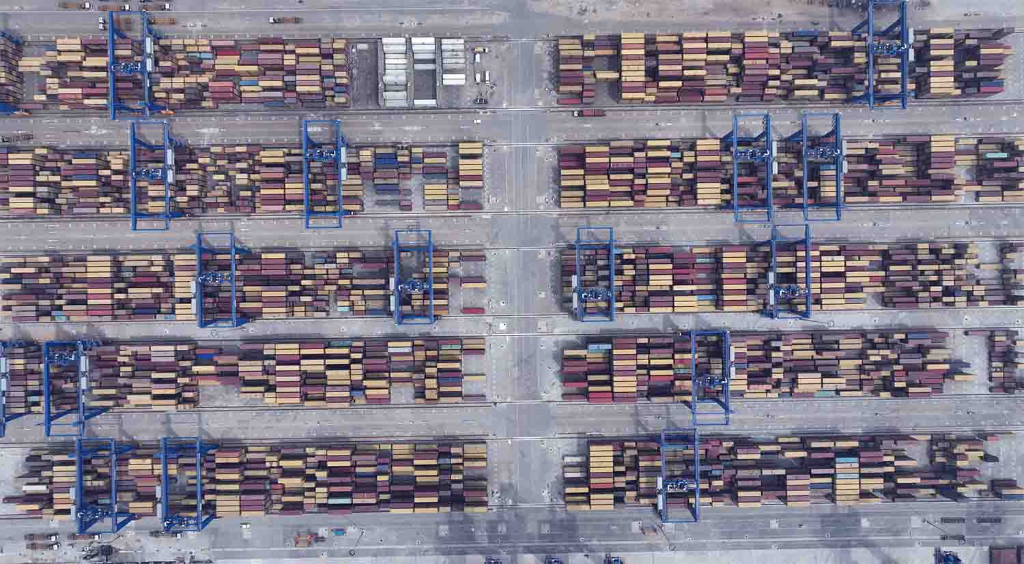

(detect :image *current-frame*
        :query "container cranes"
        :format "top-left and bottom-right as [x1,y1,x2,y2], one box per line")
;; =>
[42,338,109,437]
[70,436,140,533]
[107,11,173,120]
[848,0,914,110]
[388,229,440,325]
[0,339,35,436]
[302,120,354,228]
[129,120,191,230]
[679,330,736,426]
[785,112,848,220]
[190,231,253,328]
[155,436,220,534]
[570,227,616,322]
[755,224,813,319]
[719,113,778,221]
[650,429,701,522]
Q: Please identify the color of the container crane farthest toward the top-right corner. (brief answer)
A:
blue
